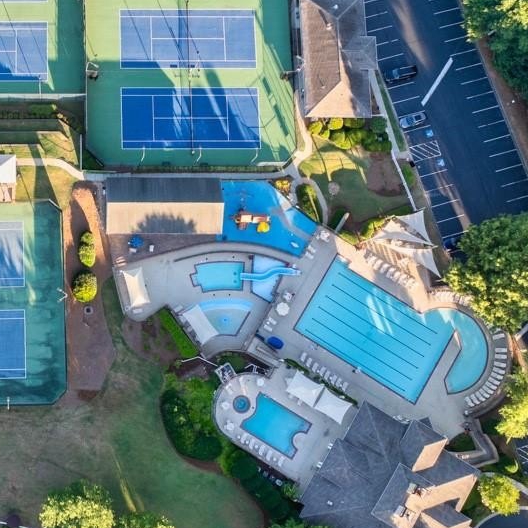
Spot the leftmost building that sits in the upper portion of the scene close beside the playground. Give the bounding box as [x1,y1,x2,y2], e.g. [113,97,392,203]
[106,177,226,236]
